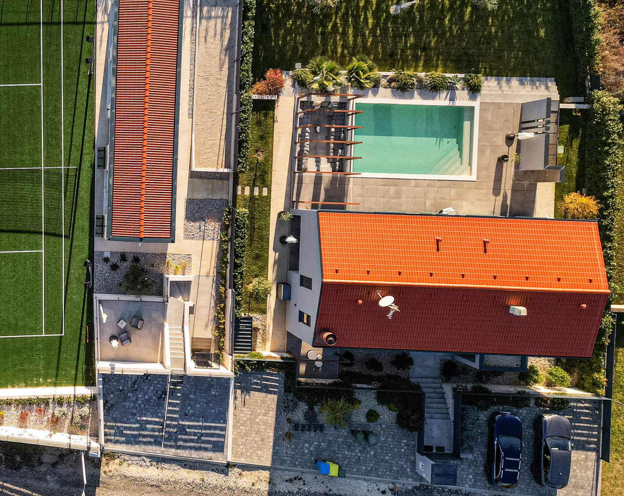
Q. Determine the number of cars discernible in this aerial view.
two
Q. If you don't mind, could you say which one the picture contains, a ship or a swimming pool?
swimming pool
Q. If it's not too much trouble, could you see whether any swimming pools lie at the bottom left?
No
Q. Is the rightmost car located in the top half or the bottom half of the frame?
bottom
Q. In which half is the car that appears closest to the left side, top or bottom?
bottom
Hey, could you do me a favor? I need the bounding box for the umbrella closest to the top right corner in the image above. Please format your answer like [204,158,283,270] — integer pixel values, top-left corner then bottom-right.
[505,130,535,142]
